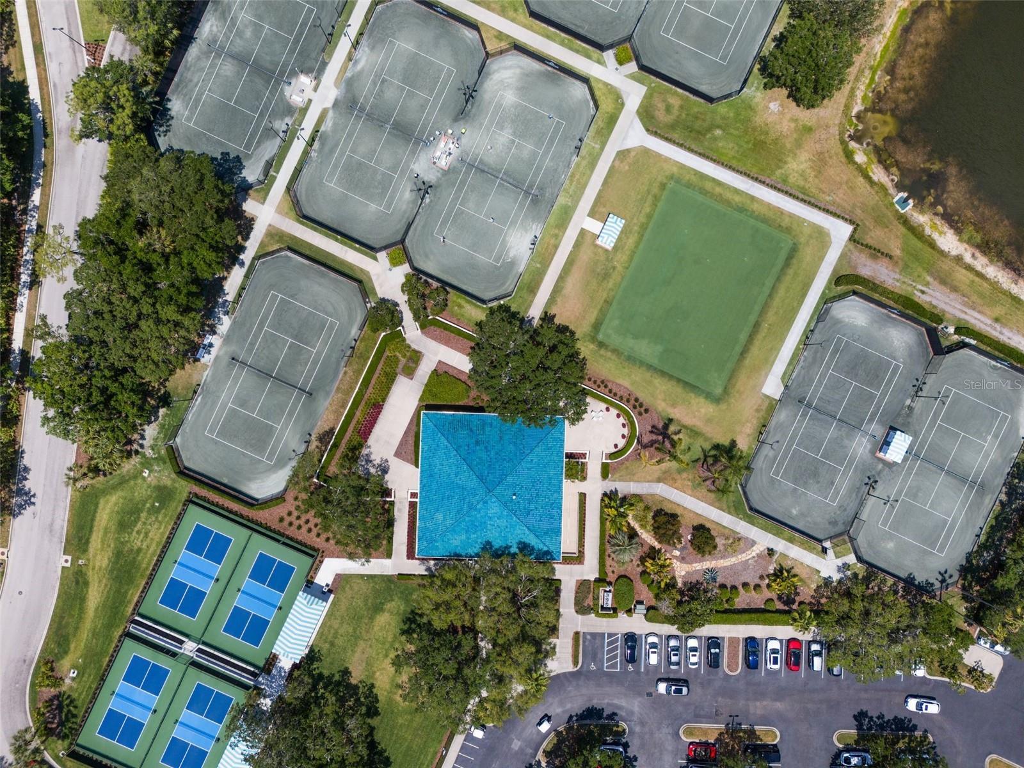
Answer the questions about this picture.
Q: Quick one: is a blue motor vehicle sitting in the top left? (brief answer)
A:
No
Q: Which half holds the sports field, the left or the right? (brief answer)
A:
right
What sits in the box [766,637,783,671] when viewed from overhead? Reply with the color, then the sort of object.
white car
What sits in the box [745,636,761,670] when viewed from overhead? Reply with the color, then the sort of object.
blue car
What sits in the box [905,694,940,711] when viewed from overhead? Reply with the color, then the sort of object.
white car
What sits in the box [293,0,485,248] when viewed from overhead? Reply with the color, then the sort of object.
gray tennis court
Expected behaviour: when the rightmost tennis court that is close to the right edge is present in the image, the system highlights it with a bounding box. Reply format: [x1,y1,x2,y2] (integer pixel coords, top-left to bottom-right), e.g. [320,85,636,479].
[847,347,1024,593]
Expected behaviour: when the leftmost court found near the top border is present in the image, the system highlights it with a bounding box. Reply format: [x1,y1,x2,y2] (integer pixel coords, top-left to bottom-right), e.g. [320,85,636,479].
[154,0,346,190]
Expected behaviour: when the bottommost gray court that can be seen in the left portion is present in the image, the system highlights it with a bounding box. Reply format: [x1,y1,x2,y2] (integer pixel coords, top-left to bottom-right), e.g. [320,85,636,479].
[175,252,368,503]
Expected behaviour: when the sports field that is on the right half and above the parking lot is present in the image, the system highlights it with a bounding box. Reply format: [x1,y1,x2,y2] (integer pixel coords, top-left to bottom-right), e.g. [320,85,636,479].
[596,178,796,402]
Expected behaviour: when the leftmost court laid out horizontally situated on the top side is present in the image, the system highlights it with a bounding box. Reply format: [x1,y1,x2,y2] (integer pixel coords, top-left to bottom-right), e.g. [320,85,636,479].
[524,0,648,46]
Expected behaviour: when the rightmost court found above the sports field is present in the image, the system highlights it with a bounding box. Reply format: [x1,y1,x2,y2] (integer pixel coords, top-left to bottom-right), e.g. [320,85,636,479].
[629,0,782,103]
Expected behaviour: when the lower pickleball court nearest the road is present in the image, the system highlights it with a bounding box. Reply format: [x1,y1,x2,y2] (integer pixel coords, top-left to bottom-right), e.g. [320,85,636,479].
[75,638,187,768]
